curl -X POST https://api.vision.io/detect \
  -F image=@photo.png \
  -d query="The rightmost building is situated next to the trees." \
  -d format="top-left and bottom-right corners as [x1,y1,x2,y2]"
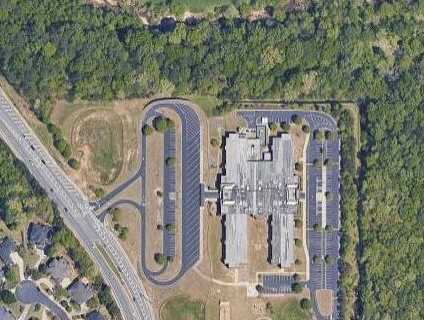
[221,124,299,268]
